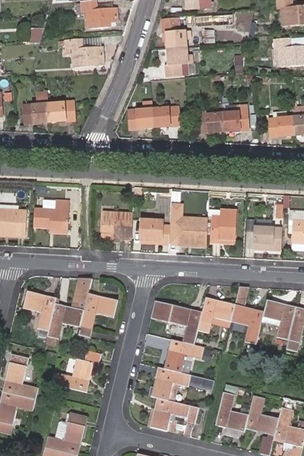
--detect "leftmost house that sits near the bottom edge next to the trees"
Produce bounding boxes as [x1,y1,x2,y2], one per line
[0,362,39,434]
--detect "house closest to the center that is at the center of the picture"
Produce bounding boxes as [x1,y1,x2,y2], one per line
[140,218,170,245]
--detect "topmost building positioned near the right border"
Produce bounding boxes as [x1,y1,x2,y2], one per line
[276,0,304,26]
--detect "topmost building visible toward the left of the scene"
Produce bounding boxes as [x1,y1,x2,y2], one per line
[80,0,120,30]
